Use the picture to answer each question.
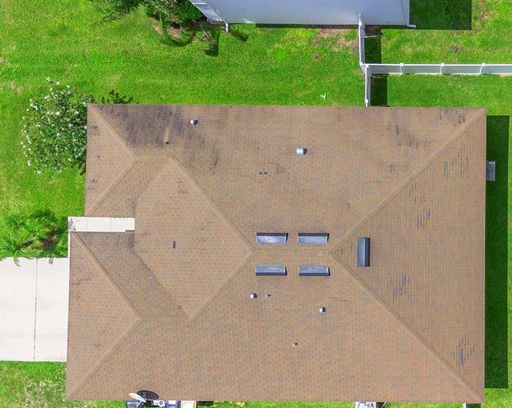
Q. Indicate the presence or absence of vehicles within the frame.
No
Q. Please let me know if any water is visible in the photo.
No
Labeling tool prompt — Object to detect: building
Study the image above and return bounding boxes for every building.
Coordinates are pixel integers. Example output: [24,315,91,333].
[188,0,416,33]
[67,103,494,403]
